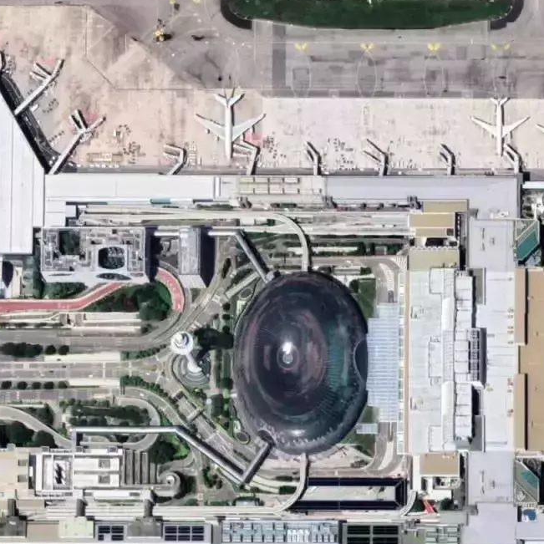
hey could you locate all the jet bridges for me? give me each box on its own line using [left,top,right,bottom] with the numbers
[438,142,453,176]
[305,141,321,176]
[162,145,185,175]
[49,108,107,175]
[502,143,520,176]
[362,139,389,176]
[15,59,66,116]
[232,140,258,176]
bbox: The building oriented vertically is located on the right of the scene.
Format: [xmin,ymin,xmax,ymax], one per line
[398,201,544,511]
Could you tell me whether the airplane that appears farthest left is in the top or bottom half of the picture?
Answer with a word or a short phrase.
top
